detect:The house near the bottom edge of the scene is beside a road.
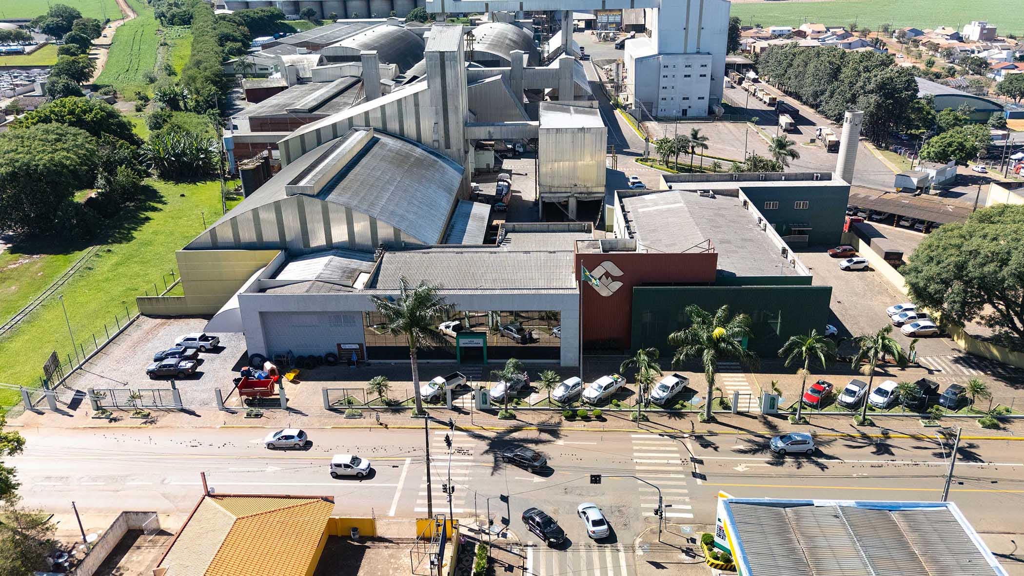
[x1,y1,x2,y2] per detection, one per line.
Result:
[147,492,342,576]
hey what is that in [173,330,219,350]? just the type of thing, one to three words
vehicle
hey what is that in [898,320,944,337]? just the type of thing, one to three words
car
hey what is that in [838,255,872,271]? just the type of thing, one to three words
car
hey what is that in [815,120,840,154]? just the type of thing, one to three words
truck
